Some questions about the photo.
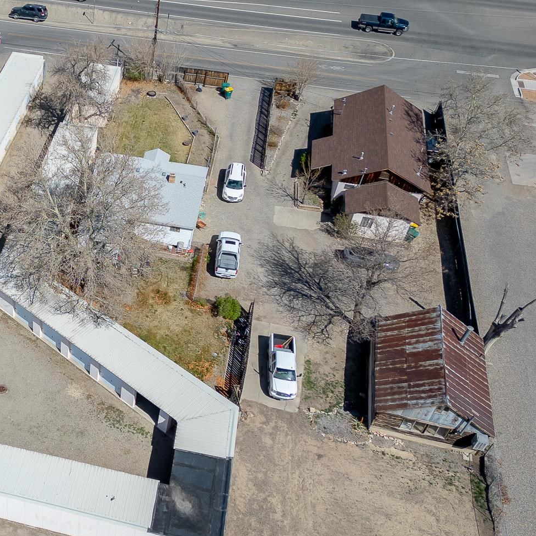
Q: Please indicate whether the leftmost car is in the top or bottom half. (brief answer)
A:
top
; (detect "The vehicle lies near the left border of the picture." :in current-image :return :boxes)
[8,0,51,22]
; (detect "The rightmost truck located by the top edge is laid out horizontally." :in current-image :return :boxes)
[356,12,411,36]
